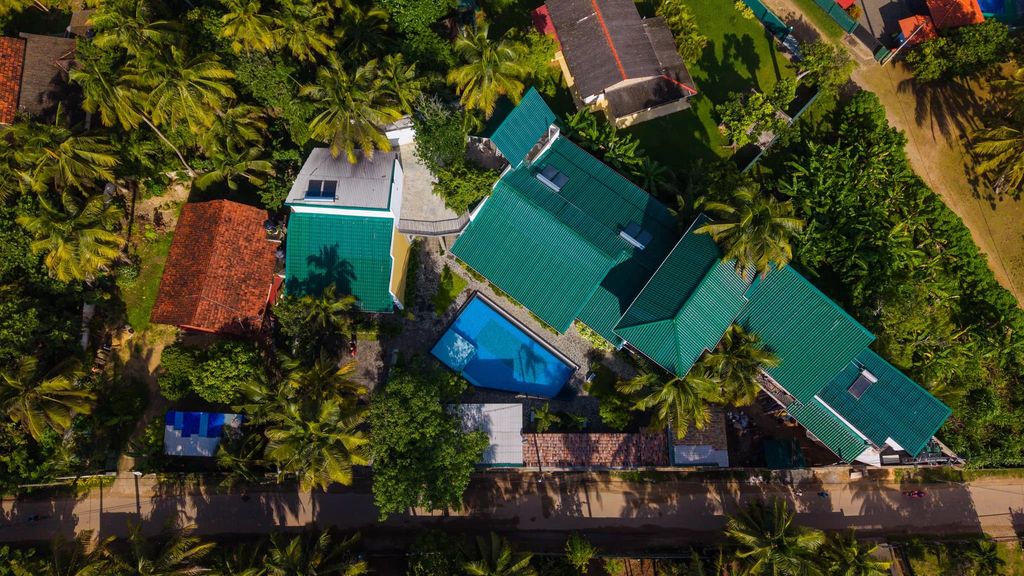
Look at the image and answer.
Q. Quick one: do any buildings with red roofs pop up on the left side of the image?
Yes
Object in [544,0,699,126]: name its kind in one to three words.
house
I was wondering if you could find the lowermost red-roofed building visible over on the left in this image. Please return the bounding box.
[150,199,281,335]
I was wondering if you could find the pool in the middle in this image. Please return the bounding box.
[423,288,586,403]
